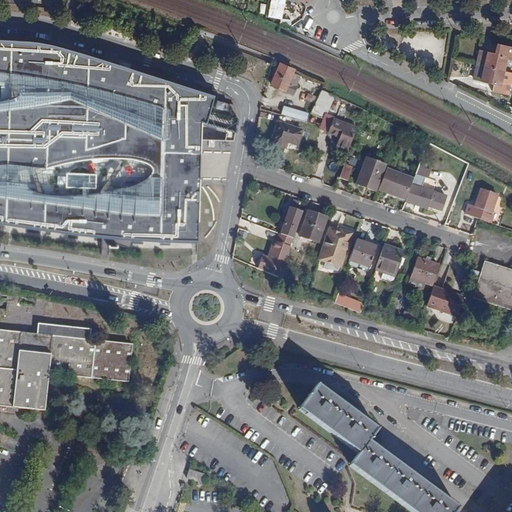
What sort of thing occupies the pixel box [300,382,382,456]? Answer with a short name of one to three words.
building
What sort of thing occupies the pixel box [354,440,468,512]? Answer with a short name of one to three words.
building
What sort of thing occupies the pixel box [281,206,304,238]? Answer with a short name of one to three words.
house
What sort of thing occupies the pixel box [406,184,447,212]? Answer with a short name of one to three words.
house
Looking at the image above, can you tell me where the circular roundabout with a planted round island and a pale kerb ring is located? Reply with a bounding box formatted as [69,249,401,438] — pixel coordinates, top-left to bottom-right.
[170,271,243,344]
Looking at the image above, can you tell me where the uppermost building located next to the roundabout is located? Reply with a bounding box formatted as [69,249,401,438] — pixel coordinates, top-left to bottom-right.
[0,40,215,244]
